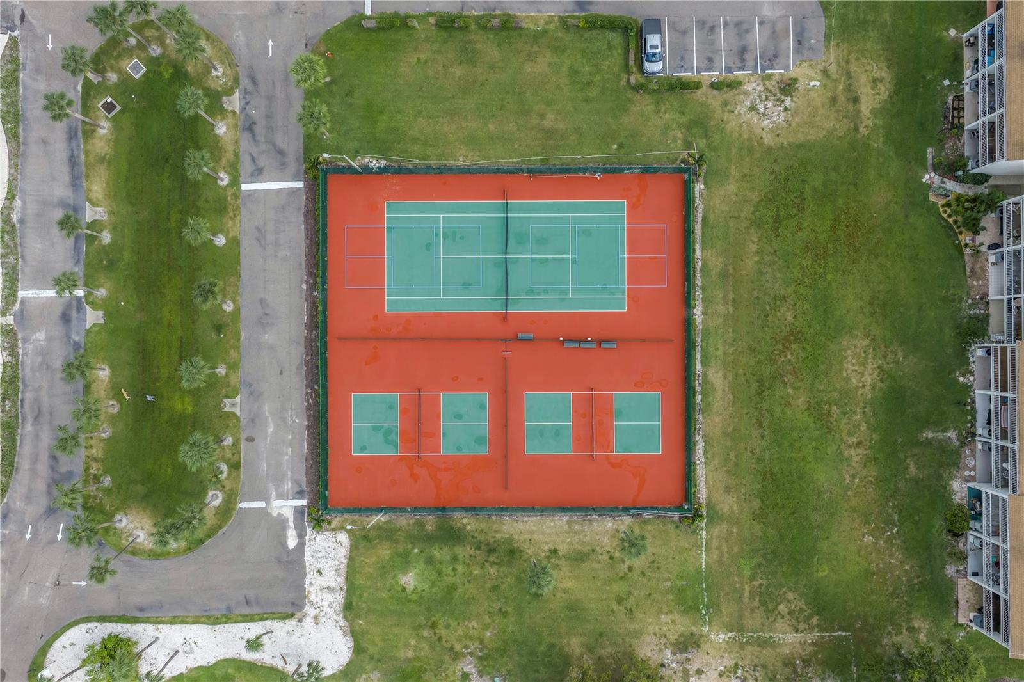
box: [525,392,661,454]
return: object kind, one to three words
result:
sports court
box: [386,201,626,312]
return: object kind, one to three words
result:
tennis court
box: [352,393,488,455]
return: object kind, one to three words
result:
sports court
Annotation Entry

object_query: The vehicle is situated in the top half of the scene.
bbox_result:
[641,18,666,75]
